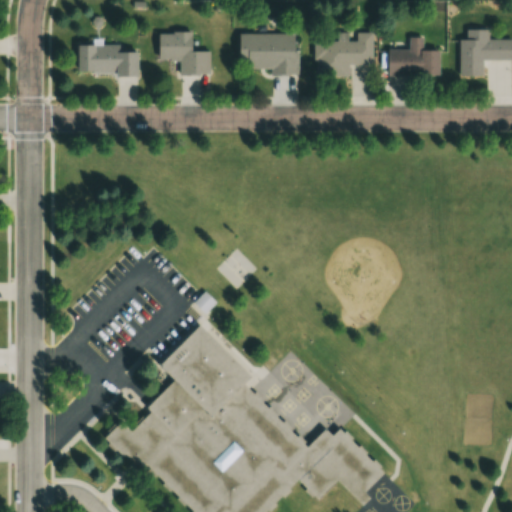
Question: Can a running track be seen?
No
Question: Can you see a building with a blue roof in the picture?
No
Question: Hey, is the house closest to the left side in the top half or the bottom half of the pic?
top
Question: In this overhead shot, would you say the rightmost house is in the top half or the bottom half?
top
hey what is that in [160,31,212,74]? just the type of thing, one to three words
house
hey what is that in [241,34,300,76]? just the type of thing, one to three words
house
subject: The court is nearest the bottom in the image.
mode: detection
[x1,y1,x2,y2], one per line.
[358,472,424,512]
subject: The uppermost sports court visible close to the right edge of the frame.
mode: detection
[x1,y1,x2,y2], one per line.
[464,394,494,445]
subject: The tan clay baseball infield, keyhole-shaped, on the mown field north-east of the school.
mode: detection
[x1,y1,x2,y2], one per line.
[324,236,402,328]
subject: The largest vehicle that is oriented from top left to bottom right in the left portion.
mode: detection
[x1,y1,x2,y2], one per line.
[102,378,122,396]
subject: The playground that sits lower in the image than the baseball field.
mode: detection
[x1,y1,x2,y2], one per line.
[250,351,354,444]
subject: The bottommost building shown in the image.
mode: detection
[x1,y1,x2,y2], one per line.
[104,326,386,512]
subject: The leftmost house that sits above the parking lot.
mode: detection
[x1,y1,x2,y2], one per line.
[80,38,140,76]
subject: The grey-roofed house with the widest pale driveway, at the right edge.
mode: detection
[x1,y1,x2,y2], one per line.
[462,29,512,76]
